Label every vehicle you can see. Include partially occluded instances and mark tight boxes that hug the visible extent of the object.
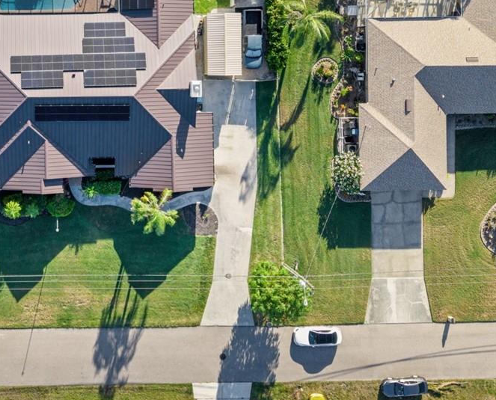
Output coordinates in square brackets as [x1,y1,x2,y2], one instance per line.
[243,11,264,64]
[292,325,340,349]
[379,375,426,398]
[306,391,324,400]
